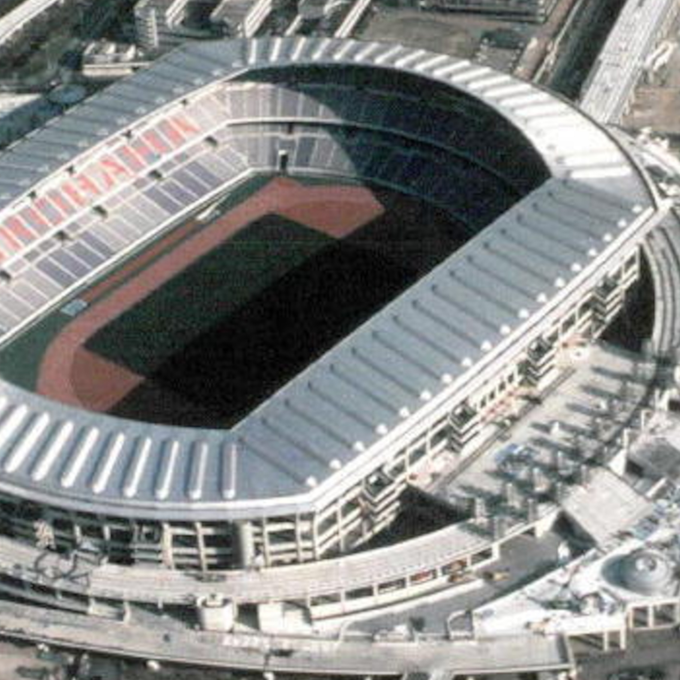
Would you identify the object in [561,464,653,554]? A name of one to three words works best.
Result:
building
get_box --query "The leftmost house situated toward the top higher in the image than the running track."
[82,41,156,74]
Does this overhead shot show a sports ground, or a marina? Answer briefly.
sports ground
